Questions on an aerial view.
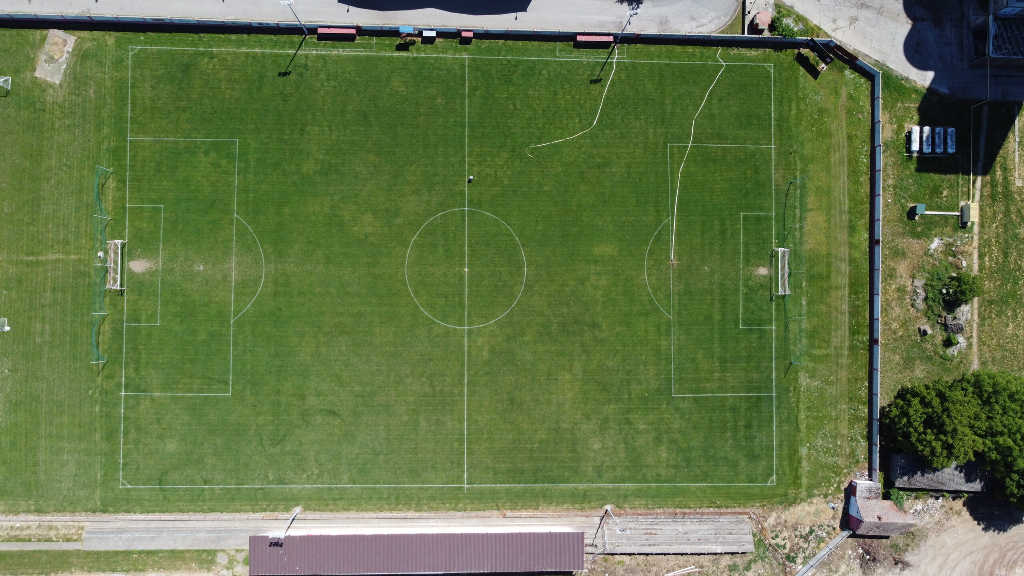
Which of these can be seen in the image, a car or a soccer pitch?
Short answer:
soccer pitch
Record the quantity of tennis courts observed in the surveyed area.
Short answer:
0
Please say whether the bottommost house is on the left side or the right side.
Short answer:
right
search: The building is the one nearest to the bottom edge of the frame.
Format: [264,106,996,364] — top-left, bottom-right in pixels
[848,479,917,535]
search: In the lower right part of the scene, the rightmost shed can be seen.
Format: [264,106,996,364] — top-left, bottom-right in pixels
[885,449,992,492]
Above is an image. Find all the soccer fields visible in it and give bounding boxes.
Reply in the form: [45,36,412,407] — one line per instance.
[106,37,790,506]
